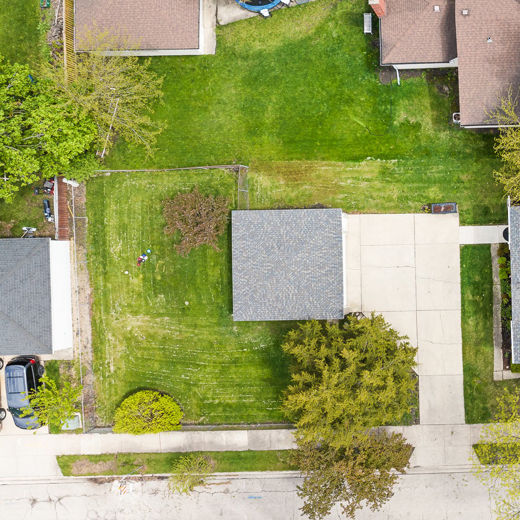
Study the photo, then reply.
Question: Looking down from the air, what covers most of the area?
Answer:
grass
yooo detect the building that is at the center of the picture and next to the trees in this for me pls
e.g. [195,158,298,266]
[231,208,349,321]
